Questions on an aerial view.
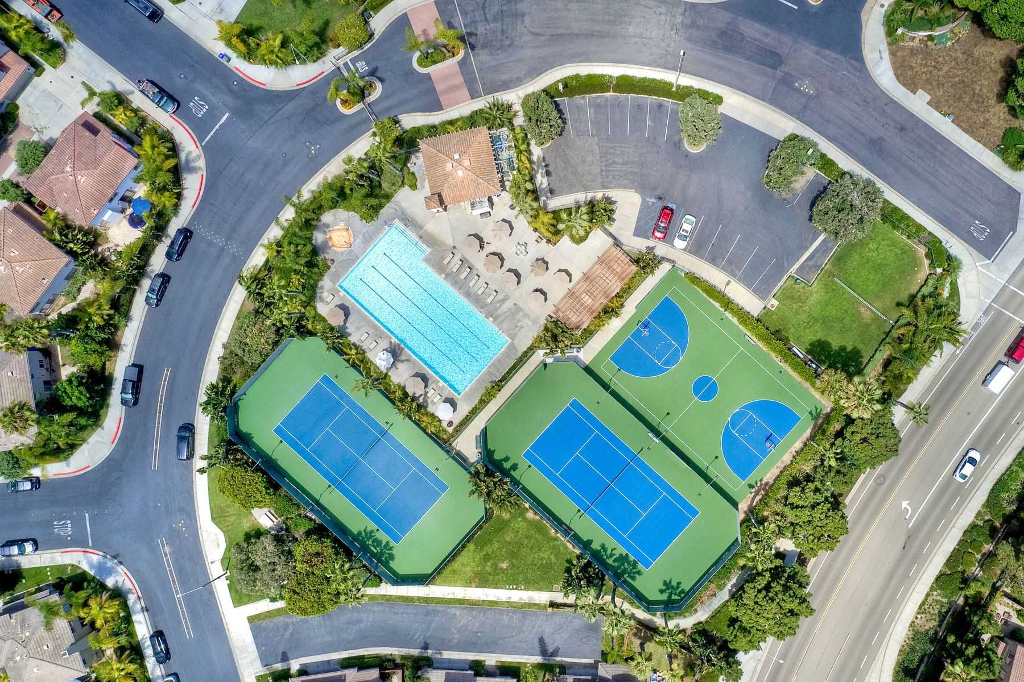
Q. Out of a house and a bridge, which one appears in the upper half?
house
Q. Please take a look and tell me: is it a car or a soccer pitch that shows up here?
car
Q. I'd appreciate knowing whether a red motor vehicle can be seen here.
Yes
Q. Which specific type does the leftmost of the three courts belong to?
tennis court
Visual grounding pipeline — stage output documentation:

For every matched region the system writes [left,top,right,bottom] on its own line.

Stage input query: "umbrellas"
[436,402,453,420]
[550,269,571,291]
[497,270,518,291]
[131,196,152,215]
[406,377,425,396]
[374,351,393,370]
[525,289,544,308]
[459,235,480,256]
[531,259,547,275]
[326,308,344,326]
[491,220,511,240]
[482,252,502,273]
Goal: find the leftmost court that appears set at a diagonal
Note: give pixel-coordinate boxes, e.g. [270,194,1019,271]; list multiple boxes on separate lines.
[236,340,480,581]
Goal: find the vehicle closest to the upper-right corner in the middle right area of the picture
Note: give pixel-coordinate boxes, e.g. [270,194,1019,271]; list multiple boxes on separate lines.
[1002,321,1024,359]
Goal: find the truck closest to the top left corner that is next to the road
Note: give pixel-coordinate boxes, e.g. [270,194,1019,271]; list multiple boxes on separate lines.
[24,0,64,22]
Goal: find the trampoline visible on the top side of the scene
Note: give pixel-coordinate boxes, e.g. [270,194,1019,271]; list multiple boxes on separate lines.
[124,210,144,229]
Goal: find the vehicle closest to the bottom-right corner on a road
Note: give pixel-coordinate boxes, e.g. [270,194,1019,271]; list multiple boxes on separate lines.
[950,447,978,483]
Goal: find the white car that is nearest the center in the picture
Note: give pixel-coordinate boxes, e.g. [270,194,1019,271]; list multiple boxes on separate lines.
[674,214,696,250]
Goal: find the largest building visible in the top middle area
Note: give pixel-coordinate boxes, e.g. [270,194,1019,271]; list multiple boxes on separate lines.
[417,124,503,207]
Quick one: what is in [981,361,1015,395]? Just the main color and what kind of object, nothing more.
white trailer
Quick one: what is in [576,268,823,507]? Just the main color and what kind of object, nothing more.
green basketball court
